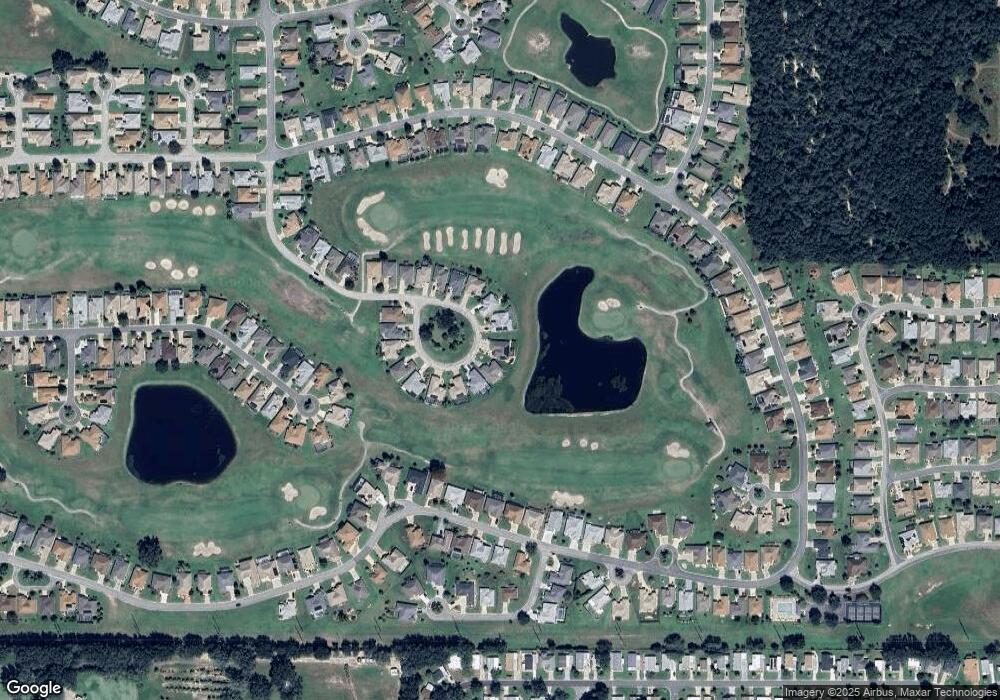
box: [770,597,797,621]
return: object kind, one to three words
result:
swimming pool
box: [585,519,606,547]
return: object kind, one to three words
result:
house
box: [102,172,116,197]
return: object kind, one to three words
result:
house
